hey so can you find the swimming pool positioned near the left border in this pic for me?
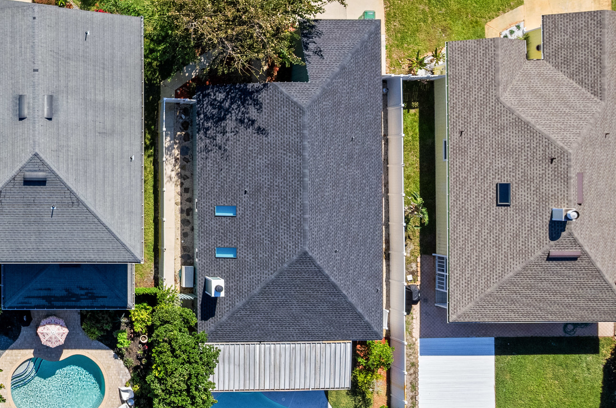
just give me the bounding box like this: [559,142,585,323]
[12,356,105,408]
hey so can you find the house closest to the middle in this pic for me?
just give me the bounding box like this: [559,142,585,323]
[194,18,393,342]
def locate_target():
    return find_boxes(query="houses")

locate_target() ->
[0,0,144,312]
[435,10,616,325]
[194,18,393,342]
